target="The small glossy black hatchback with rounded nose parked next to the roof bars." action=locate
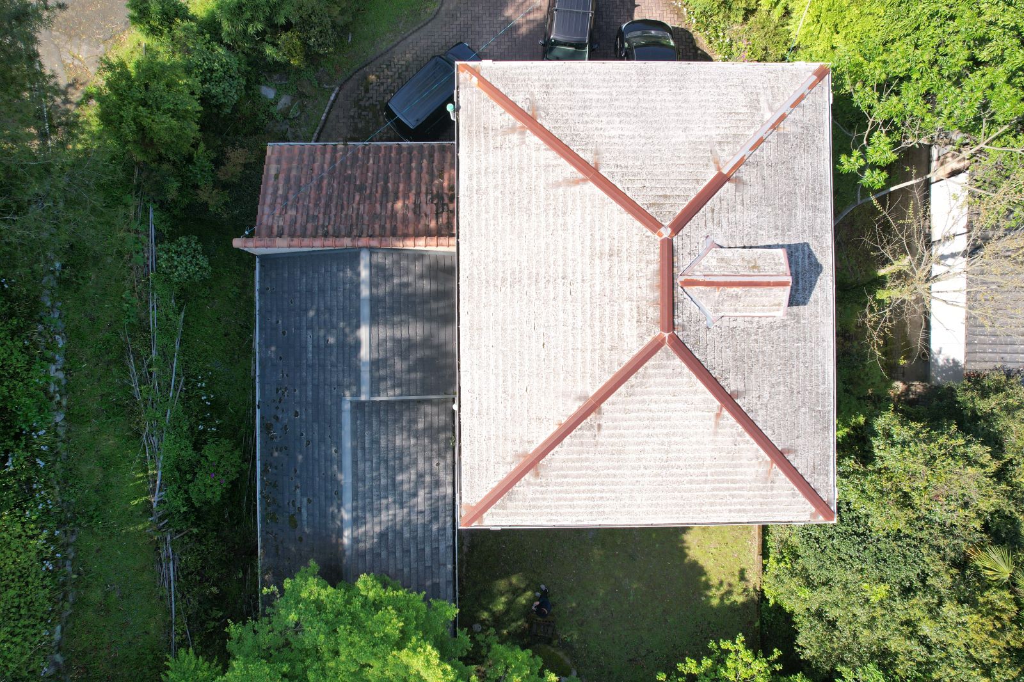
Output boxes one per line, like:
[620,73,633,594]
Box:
[618,17,680,60]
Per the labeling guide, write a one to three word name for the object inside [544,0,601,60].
car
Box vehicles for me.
[618,17,680,60]
[384,32,495,141]
[544,0,601,60]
